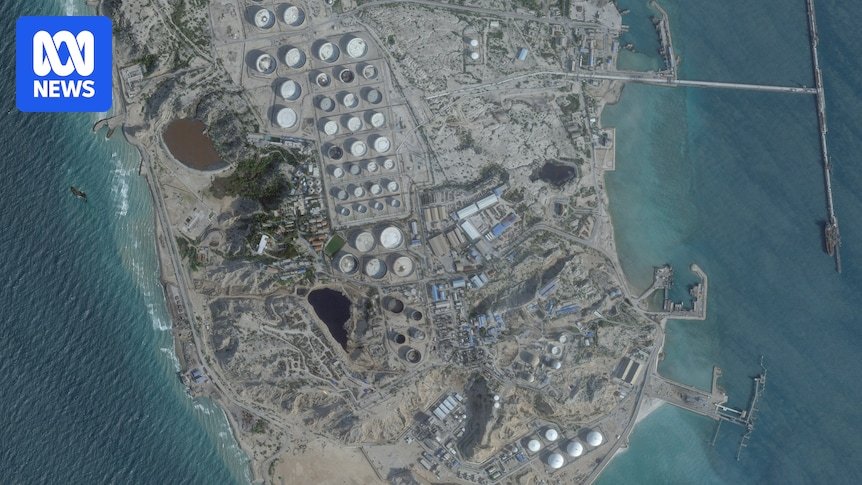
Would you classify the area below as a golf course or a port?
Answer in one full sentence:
This image shows a port.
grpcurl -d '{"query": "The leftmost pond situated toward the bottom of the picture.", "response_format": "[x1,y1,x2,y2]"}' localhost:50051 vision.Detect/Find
[308,287,352,350]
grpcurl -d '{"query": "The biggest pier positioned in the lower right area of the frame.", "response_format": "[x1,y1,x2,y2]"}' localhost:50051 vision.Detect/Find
[644,367,727,420]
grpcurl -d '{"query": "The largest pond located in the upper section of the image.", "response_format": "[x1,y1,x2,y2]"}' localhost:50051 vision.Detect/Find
[163,118,222,171]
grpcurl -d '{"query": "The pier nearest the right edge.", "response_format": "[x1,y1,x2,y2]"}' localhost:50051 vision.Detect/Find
[806,0,840,273]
